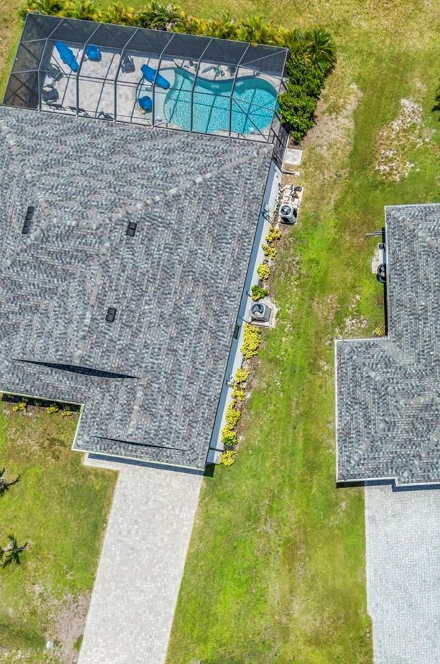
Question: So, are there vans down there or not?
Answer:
No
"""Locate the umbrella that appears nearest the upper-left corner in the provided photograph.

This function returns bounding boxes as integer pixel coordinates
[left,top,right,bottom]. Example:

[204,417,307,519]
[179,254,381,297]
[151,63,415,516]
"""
[54,42,83,75]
